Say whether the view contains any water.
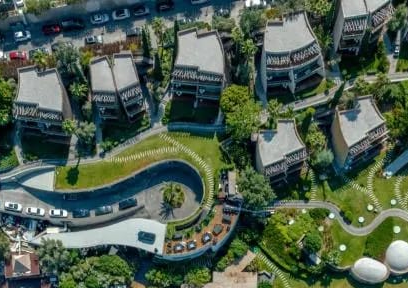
No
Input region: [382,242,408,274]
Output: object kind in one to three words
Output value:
tent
